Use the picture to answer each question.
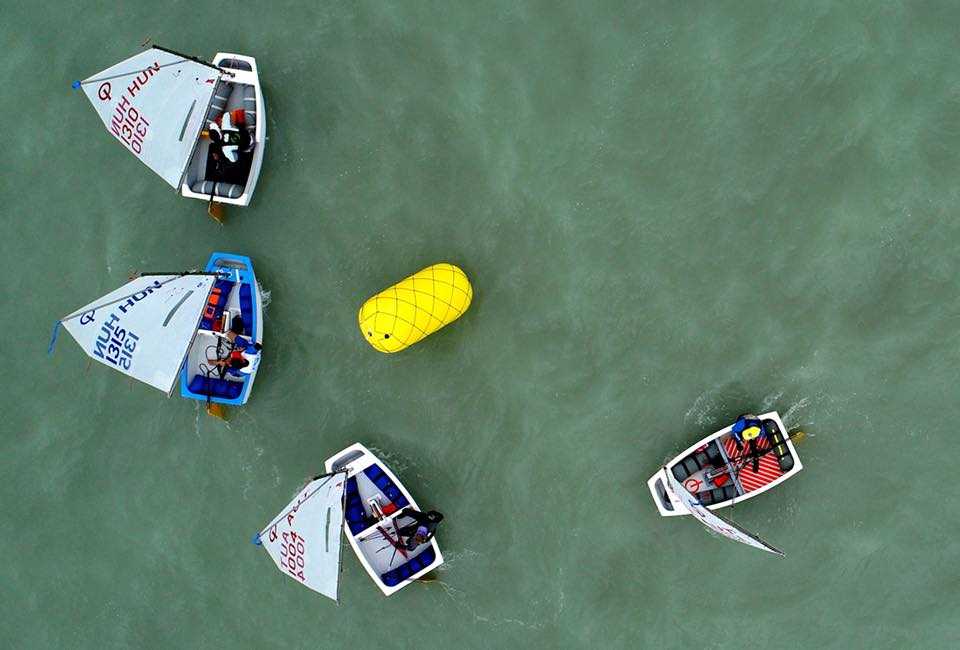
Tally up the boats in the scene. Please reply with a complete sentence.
Looking from above, you can make out 4 boats.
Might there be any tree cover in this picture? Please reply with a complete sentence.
No, there's no tree cover in this view.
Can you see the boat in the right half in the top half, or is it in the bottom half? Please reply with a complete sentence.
It is in the bottom half that the boat in the right half appears.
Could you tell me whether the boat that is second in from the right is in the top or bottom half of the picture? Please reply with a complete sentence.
Seen from above, the boat that is second in from the right lies in the bottom half of the view.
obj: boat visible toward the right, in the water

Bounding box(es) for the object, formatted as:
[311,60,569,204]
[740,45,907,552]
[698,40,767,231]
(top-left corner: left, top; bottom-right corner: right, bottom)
[644,409,806,561]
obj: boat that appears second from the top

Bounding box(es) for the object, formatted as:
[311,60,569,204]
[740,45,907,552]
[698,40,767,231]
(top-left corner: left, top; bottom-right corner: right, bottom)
[52,251,263,420]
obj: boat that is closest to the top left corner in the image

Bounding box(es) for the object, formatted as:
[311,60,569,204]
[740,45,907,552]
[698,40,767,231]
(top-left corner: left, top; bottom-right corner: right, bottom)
[72,38,266,218]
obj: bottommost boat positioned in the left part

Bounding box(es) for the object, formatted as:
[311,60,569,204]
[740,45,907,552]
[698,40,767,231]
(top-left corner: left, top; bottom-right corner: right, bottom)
[250,441,446,607]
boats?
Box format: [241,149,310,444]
[52,251,263,420]
[250,441,446,607]
[644,409,806,561]
[72,38,266,218]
